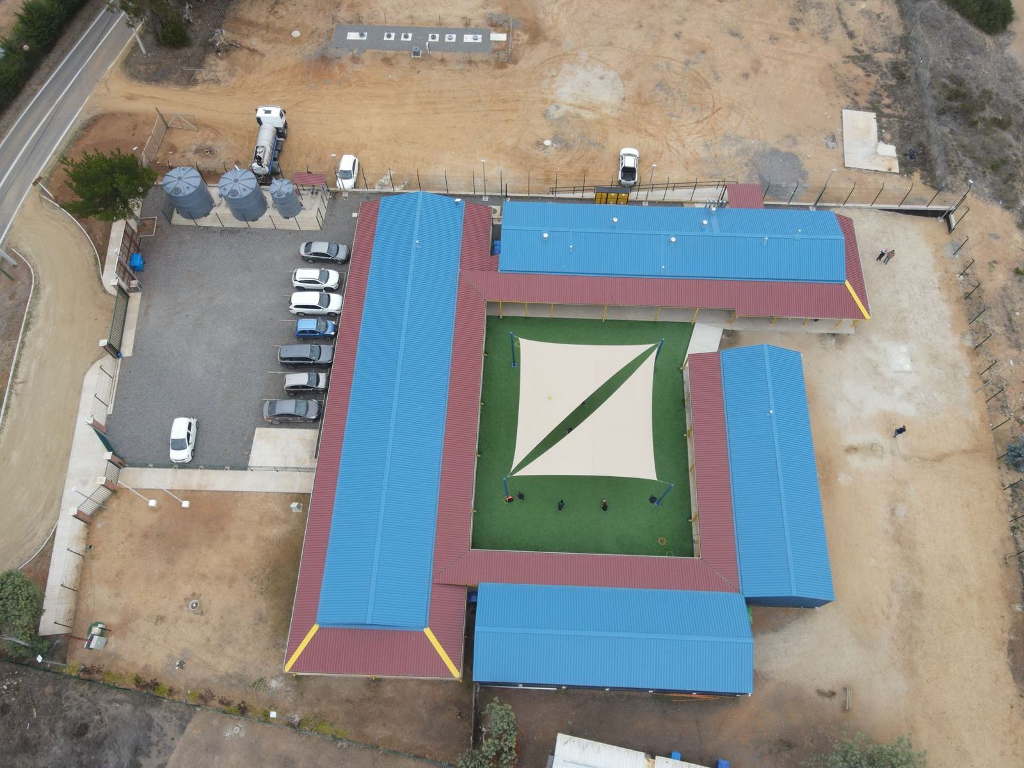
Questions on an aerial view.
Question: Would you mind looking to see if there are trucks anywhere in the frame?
Yes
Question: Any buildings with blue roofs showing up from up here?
Yes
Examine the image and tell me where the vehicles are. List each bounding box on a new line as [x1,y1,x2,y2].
[263,398,323,426]
[289,266,342,293]
[298,241,351,266]
[166,417,201,465]
[618,147,641,191]
[286,292,343,319]
[333,152,361,193]
[274,343,335,371]
[255,106,295,180]
[294,317,339,342]
[282,371,331,397]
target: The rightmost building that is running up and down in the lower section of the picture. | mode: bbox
[681,343,837,609]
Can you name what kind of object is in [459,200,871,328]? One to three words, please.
building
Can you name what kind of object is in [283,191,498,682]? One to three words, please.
building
